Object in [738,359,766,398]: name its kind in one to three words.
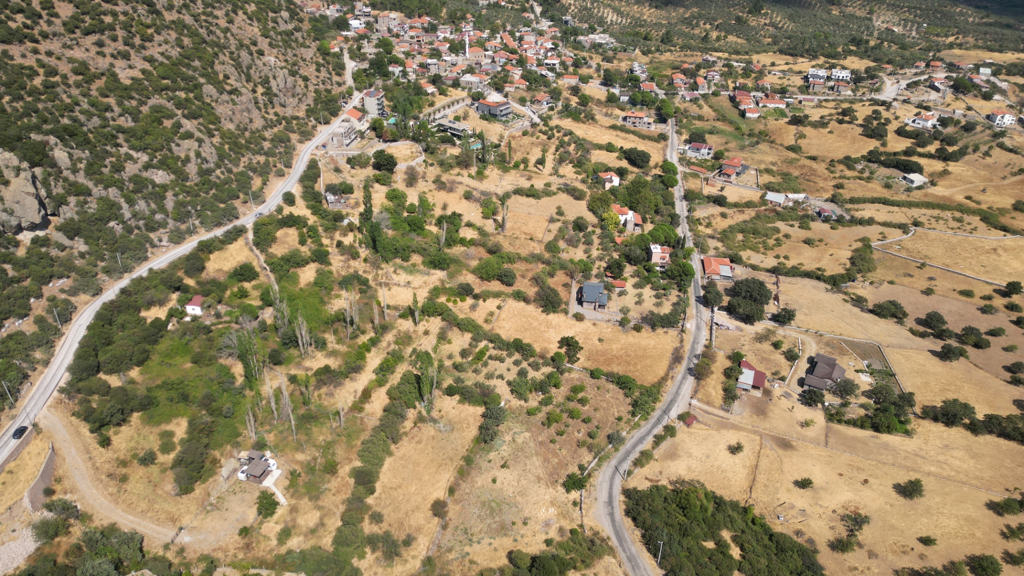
barn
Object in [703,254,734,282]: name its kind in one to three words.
house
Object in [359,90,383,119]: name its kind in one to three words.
building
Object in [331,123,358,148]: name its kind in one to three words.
house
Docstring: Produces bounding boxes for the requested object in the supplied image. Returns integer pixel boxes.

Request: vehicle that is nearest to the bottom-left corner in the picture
[8,424,30,438]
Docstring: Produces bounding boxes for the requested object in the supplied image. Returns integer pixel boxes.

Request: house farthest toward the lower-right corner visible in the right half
[802,352,842,393]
